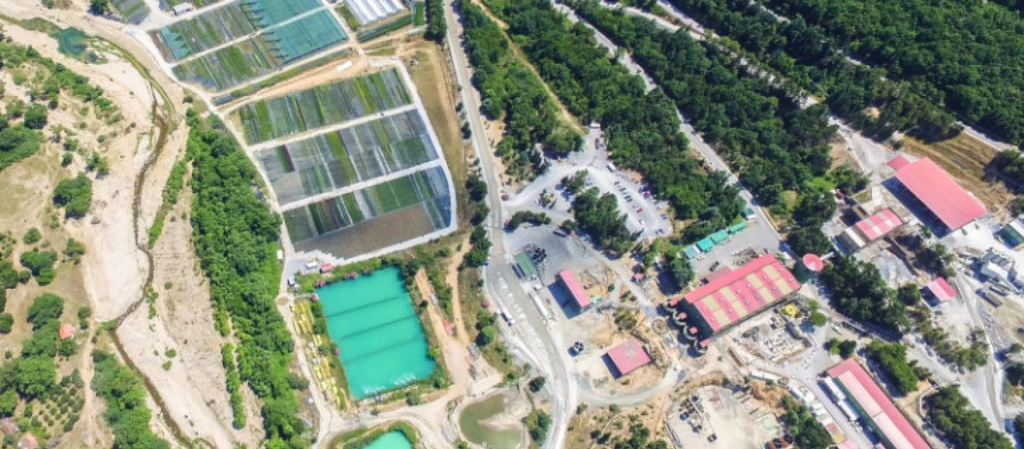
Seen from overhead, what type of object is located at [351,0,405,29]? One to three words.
greenhouse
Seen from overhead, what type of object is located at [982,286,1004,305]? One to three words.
vehicle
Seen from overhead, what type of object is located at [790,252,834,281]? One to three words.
storage tank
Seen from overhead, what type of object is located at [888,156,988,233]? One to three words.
building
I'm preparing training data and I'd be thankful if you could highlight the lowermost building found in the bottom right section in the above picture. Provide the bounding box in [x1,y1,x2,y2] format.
[828,357,940,449]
